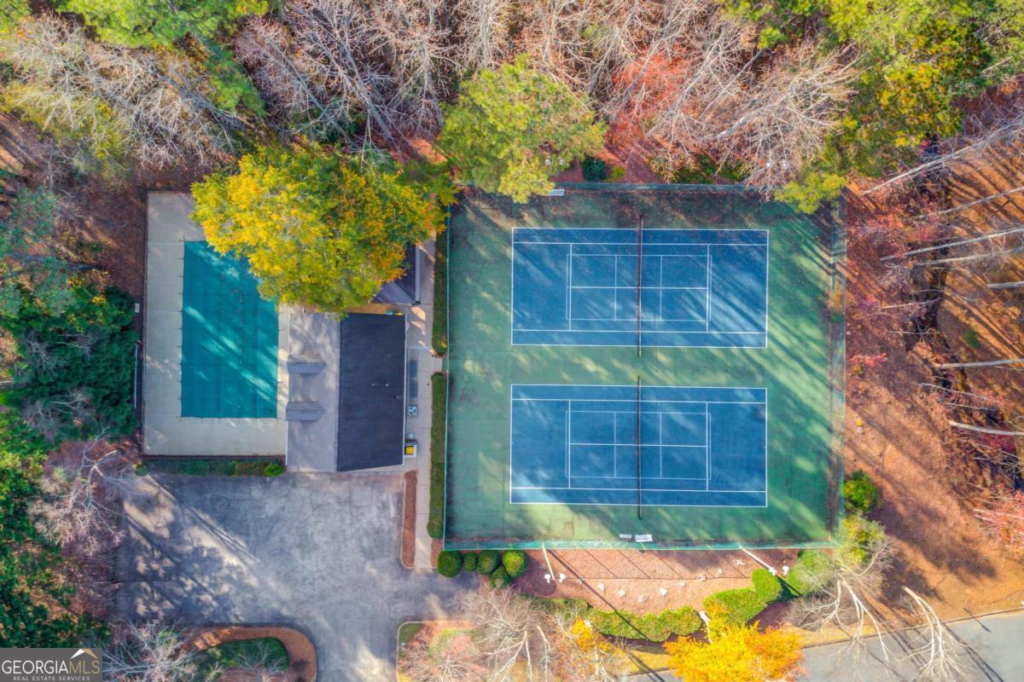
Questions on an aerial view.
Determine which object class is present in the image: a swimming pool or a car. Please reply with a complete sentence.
There is a swimming pool in the scene.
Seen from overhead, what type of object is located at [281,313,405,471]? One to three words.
building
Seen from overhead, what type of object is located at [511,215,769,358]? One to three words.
tennis court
